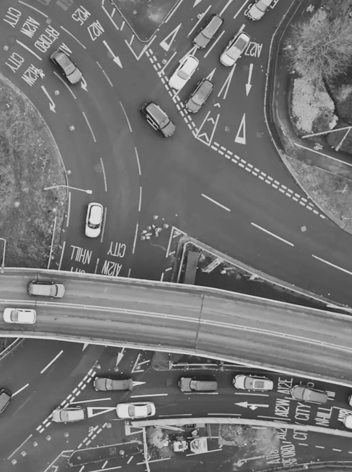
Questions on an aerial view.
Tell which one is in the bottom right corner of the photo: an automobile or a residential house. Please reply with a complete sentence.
The feature located in the bottom right corner of the photo is an automobile.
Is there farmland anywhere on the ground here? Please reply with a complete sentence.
No, the picture contains no farmland.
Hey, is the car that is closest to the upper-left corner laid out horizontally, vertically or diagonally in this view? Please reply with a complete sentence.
What the image shows is the car that is closest to the upper-left corner lying diagonally.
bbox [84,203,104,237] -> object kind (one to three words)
car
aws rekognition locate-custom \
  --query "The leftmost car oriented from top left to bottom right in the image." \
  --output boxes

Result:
[46,46,83,87]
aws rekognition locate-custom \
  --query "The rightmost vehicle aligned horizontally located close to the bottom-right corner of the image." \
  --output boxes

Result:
[289,382,331,408]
